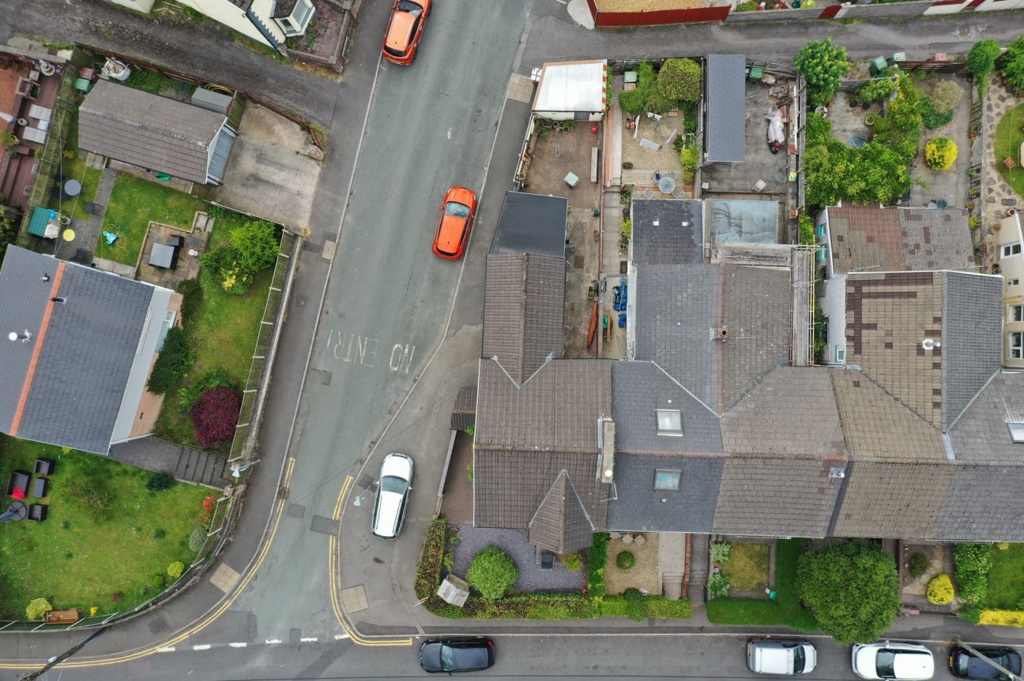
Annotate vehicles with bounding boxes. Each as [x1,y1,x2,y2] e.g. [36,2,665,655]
[944,639,1019,681]
[742,636,815,677]
[431,185,477,262]
[420,634,497,676]
[386,0,434,66]
[371,453,413,540]
[847,640,934,681]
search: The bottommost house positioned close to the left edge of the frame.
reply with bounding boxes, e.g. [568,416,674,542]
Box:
[0,244,183,456]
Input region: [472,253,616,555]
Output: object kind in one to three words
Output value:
house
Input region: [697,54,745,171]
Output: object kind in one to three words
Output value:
shed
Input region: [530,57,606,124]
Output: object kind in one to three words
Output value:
building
